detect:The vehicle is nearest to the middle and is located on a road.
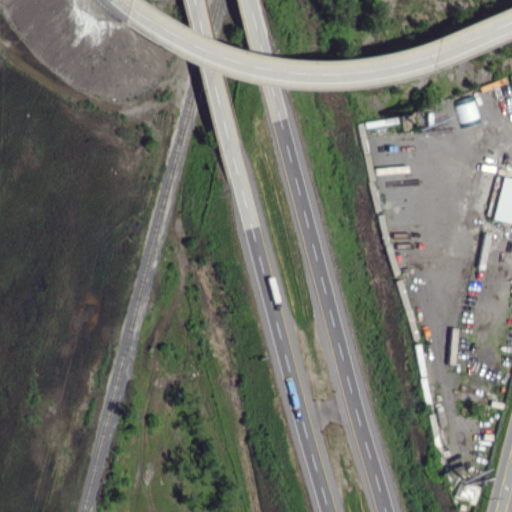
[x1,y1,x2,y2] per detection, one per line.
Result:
[269,276,282,310]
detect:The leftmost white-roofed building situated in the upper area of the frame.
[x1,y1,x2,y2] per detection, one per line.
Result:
[454,96,480,128]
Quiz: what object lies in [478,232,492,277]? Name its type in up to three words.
vehicle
